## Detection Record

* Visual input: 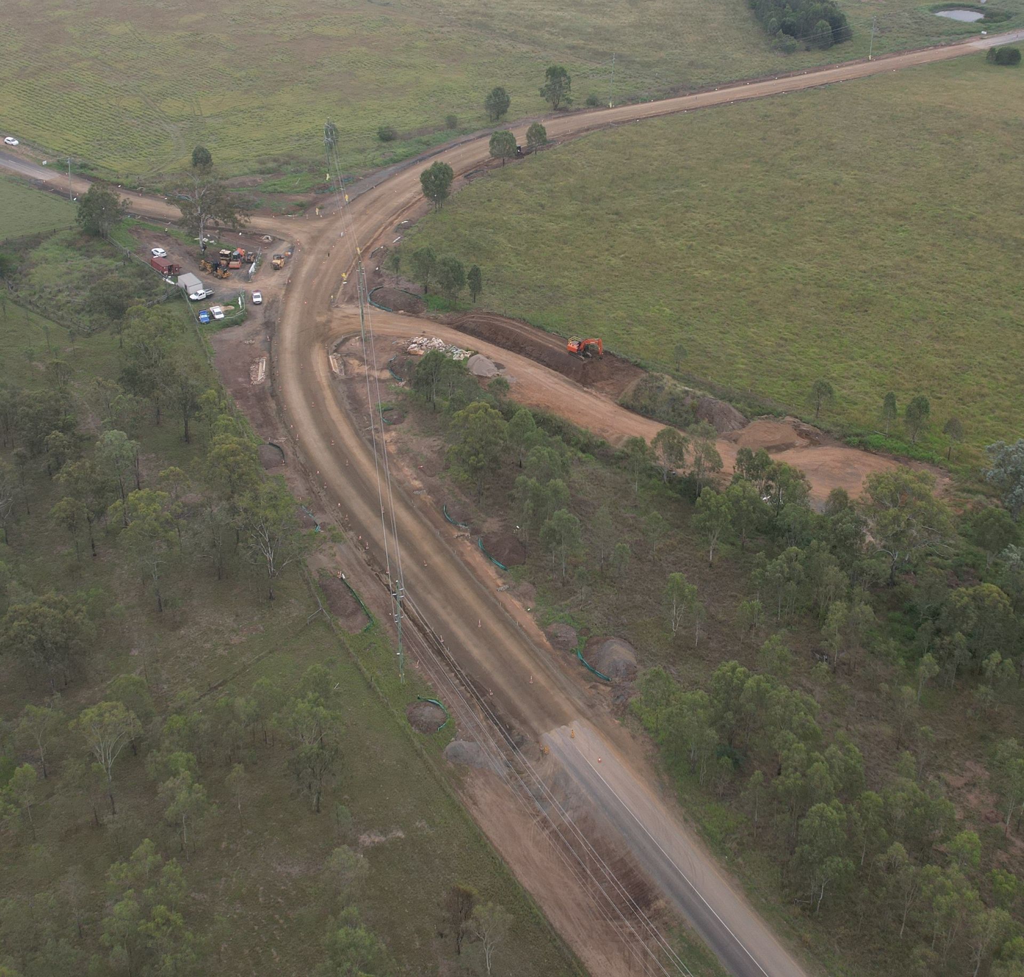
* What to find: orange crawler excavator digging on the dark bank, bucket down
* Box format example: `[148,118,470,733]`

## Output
[569,338,604,366]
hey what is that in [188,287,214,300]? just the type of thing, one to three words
vehicle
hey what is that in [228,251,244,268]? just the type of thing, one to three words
work vehicle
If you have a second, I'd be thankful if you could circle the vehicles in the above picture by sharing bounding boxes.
[228,251,244,268]
[4,137,19,146]
[209,304,225,319]
[198,307,209,323]
[245,251,256,265]
[270,250,285,267]
[218,248,229,265]
[188,287,214,300]
[149,247,168,257]
[251,289,262,304]
[569,338,604,366]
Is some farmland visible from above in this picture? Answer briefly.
Yes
